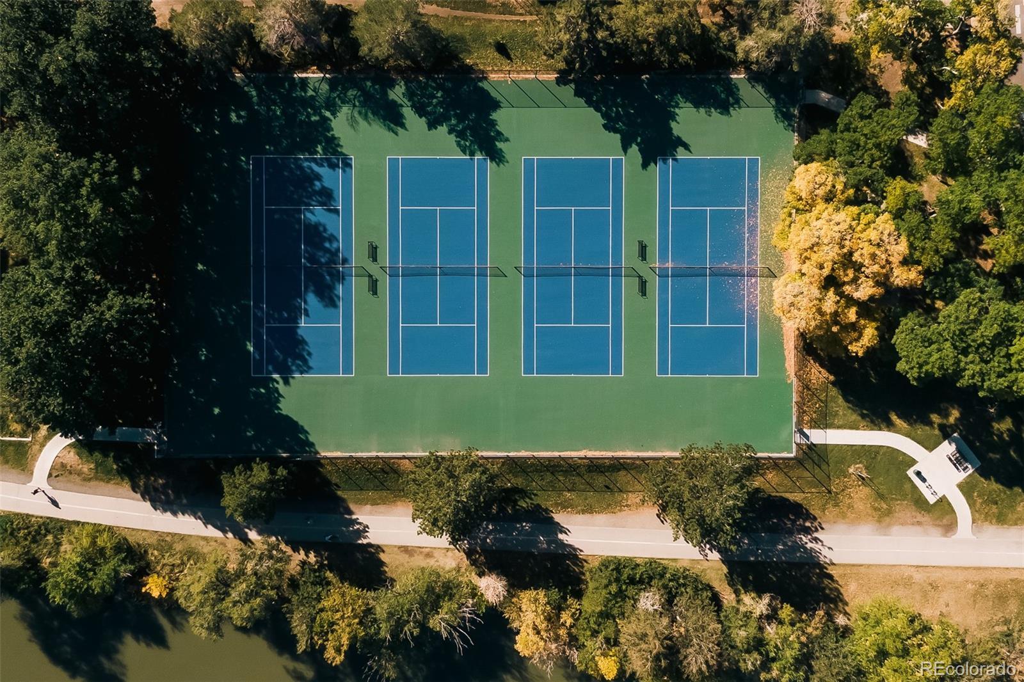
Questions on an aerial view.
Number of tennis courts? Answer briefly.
4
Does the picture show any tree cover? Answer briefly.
Yes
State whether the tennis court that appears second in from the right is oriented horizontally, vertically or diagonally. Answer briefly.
vertically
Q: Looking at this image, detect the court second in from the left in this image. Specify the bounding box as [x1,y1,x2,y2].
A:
[388,157,489,376]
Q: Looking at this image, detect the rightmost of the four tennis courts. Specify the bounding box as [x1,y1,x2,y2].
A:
[658,157,759,376]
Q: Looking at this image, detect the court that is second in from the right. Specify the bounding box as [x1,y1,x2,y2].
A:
[523,157,623,376]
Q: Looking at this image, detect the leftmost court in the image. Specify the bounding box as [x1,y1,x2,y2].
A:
[251,156,353,376]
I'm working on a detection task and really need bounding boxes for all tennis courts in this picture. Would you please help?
[388,157,489,376]
[251,156,353,376]
[658,157,759,376]
[523,157,623,376]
